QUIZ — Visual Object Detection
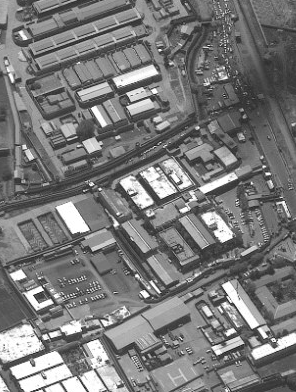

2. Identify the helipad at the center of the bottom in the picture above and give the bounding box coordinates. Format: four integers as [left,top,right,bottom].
[150,357,202,392]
